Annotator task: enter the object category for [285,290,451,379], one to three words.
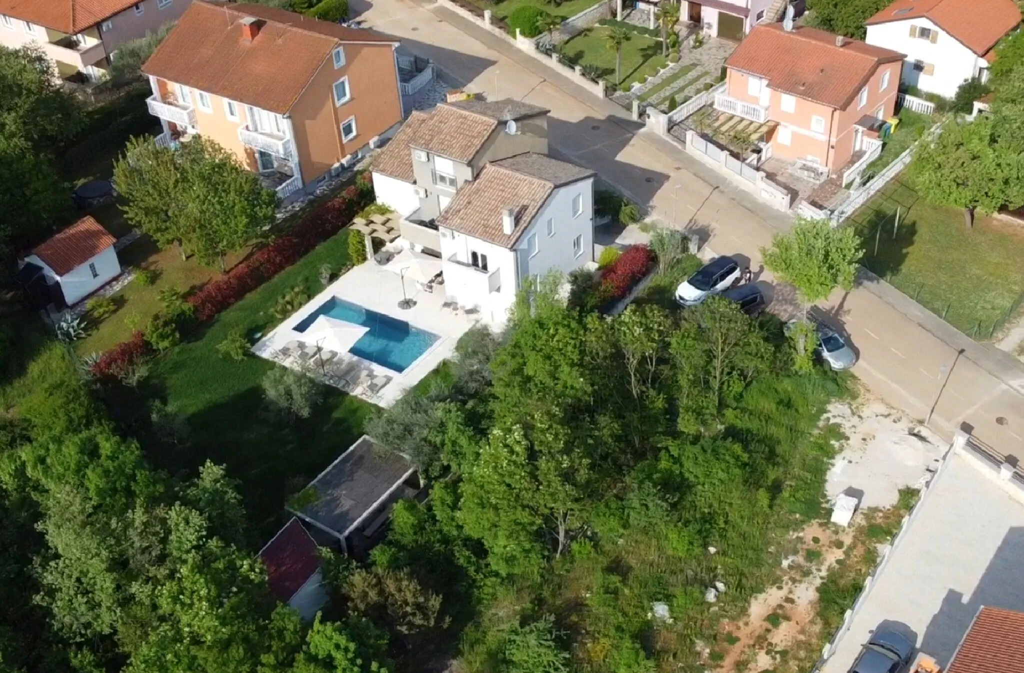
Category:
swimming pool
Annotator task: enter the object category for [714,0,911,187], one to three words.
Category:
house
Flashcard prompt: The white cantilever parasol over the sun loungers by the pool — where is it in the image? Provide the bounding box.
[299,312,372,380]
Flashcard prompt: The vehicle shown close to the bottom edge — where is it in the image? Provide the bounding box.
[848,623,916,673]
